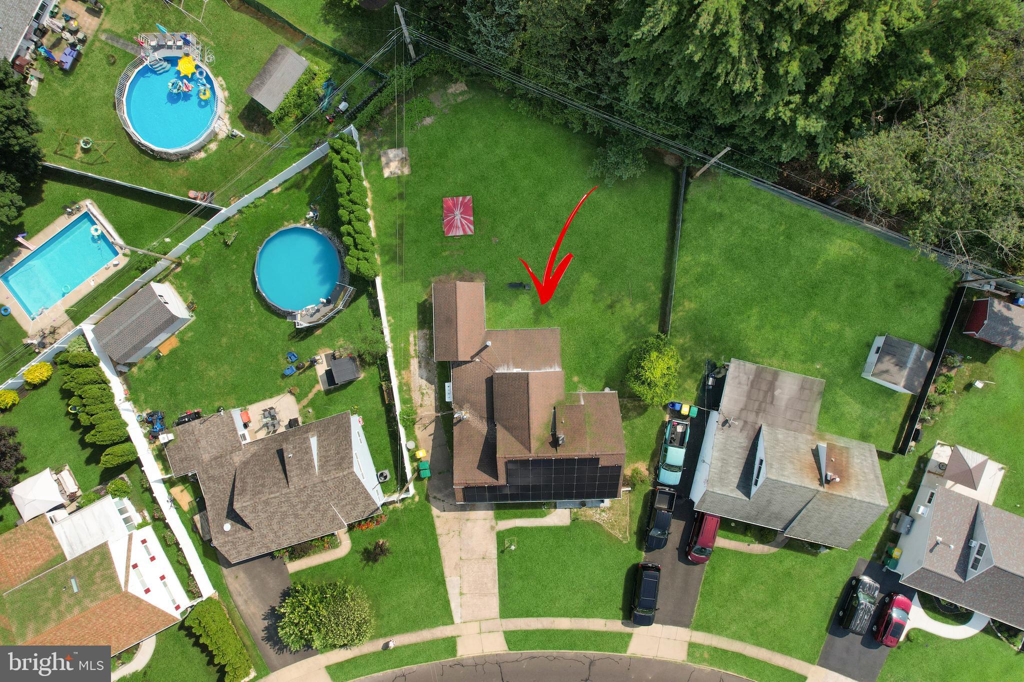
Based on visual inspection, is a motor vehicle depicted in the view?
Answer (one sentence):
Yes, a motor vehicle can be made out from above.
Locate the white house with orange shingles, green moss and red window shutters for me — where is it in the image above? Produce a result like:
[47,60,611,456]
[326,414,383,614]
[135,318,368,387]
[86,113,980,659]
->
[0,490,196,682]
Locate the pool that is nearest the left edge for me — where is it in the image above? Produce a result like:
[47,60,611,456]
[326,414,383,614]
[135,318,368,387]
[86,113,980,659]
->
[0,210,120,321]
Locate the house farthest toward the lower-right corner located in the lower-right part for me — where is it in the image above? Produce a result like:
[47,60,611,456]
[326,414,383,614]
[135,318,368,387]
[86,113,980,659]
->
[883,482,1024,632]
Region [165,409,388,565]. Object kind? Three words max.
house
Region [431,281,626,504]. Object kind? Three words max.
house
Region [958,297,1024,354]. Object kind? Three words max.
building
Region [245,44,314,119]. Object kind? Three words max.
shed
